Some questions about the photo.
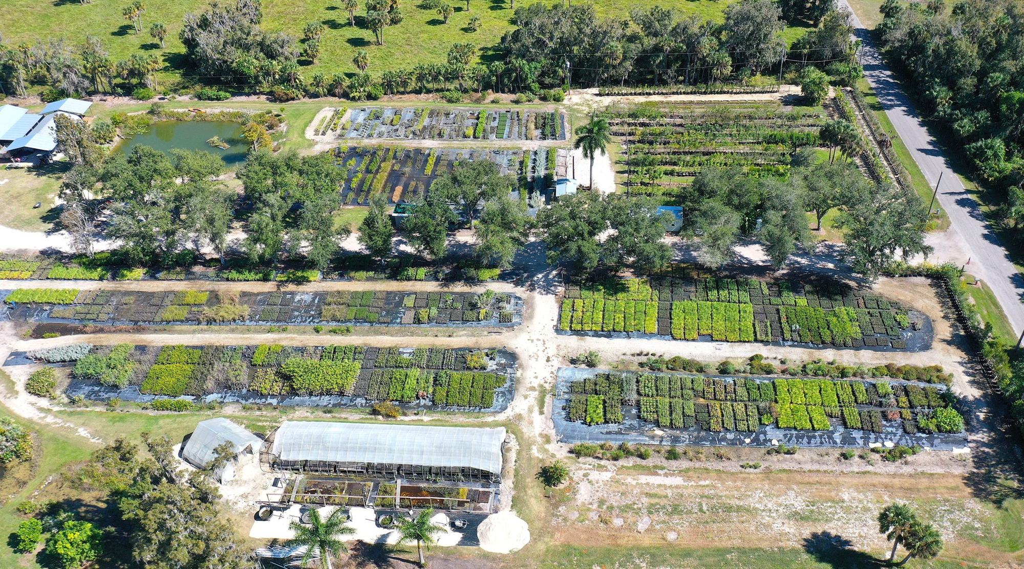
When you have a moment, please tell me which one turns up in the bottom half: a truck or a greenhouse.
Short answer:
greenhouse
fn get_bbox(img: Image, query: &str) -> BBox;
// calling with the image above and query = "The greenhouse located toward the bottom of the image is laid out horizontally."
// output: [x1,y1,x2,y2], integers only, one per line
[258,416,505,482]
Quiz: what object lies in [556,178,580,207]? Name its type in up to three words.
shed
